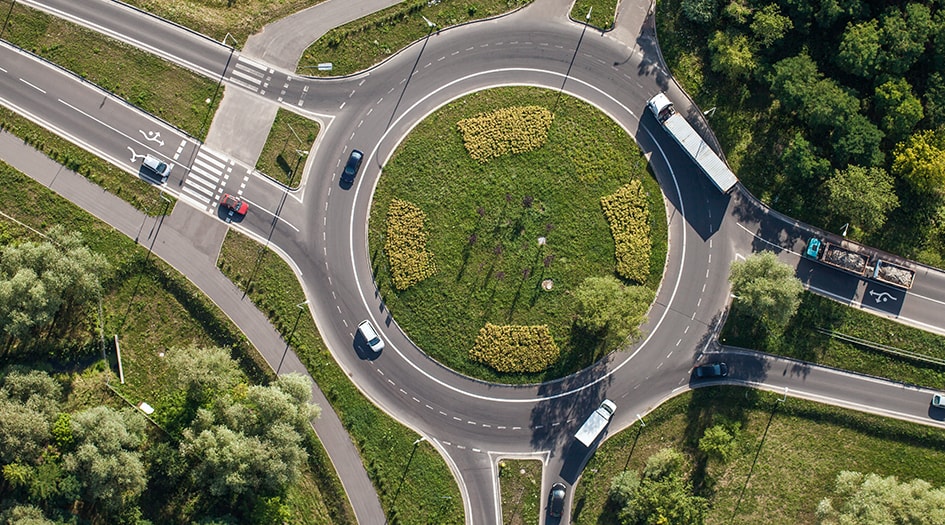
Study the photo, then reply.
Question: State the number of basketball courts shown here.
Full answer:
The count of basketball courts is 0.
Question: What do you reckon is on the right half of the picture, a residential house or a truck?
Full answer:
Looking on the right half of the picture, you will find a truck.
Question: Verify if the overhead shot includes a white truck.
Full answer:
Yes, the picture does show a white truck.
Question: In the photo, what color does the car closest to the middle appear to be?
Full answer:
In this view, the car closest to the middle is white.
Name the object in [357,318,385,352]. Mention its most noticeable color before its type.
white car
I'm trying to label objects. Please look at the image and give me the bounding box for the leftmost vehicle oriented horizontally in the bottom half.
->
[694,362,728,377]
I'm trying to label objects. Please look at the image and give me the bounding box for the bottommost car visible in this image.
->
[550,483,567,517]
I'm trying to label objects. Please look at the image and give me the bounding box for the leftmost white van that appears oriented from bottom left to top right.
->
[575,400,616,446]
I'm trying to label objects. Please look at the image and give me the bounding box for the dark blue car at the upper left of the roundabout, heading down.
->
[342,149,365,185]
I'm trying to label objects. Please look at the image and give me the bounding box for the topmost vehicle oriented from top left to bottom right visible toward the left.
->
[141,153,173,178]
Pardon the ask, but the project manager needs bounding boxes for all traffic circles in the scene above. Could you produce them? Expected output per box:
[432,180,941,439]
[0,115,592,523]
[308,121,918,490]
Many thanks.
[231,10,738,464]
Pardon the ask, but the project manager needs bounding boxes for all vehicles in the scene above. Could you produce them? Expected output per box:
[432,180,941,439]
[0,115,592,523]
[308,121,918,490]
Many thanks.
[575,400,616,446]
[357,318,385,352]
[645,94,737,194]
[802,234,916,289]
[220,194,248,214]
[550,483,567,517]
[694,362,728,377]
[342,149,365,185]
[141,153,173,178]
[932,394,945,410]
